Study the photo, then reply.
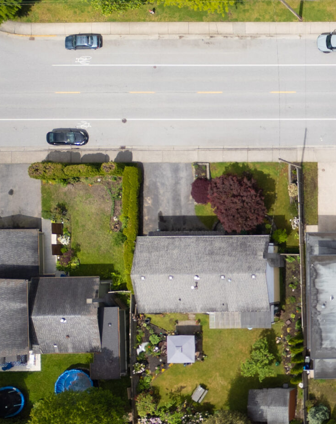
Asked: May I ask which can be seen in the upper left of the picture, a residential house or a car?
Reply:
car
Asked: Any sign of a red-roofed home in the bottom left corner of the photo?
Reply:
No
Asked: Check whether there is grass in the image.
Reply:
Yes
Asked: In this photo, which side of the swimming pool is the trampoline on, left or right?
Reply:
on the left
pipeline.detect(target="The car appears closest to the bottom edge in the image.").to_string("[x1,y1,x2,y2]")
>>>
[46,129,91,147]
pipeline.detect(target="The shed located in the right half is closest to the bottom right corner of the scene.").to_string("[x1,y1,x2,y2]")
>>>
[246,388,294,424]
